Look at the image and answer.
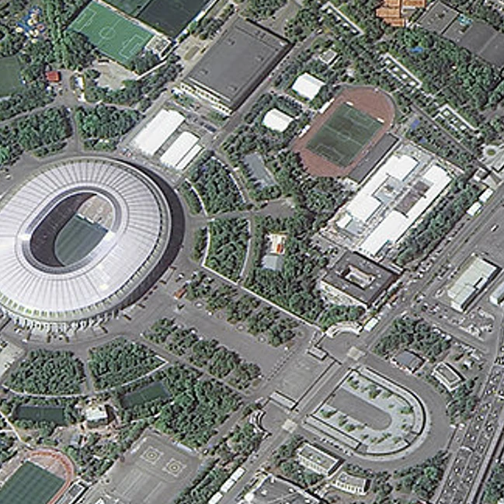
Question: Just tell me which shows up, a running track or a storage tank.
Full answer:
Visible in the photo is a running track.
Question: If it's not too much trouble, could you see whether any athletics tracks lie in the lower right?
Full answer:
No, there is no athletics track in the lower right.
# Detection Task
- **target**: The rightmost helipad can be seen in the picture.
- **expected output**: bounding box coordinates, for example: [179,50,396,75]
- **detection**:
[163,457,186,476]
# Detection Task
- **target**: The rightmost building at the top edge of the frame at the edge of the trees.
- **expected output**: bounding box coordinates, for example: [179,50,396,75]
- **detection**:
[459,19,504,72]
